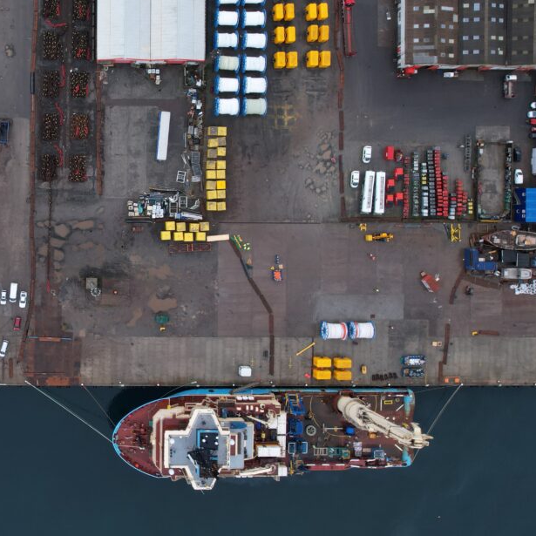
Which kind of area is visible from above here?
port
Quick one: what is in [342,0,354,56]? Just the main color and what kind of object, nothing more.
red vehicle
